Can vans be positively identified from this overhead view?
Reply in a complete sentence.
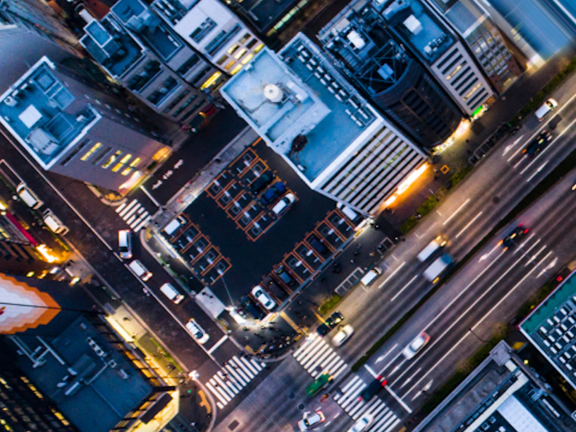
Yes, a van is visible in the scene.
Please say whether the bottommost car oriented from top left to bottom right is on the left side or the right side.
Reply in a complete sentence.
The bottommost car oriented from top left to bottom right appears in the left half of the scene.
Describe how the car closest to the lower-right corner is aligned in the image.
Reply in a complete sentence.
In this picture, the car closest to the lower-right corner is oriented on a diagonal.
